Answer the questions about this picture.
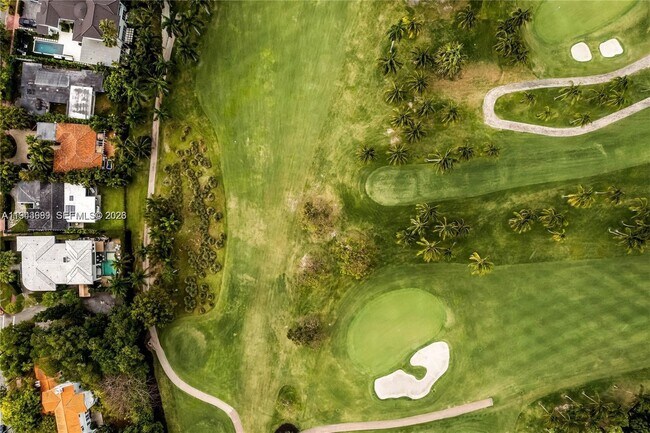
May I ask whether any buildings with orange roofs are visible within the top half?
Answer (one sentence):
Yes, a building with an orange roof can be seen within the top half.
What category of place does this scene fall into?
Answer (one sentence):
This looks like a golf course.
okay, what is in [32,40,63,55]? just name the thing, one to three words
swimming pool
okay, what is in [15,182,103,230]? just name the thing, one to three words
house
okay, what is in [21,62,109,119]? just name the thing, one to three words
house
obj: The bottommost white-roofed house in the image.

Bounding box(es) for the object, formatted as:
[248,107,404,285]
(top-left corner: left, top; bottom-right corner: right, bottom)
[17,236,102,297]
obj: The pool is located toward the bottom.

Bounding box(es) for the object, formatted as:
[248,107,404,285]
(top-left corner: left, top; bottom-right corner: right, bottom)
[101,251,116,276]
